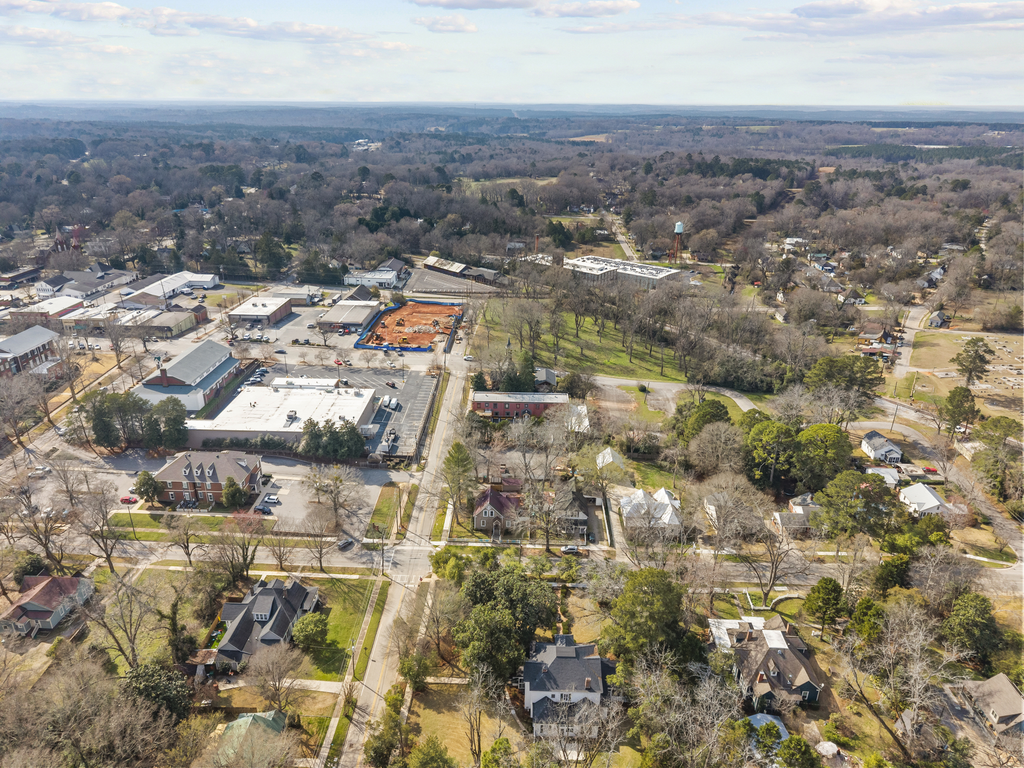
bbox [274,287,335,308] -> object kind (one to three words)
building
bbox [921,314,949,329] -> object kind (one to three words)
house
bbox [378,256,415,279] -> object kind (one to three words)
building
